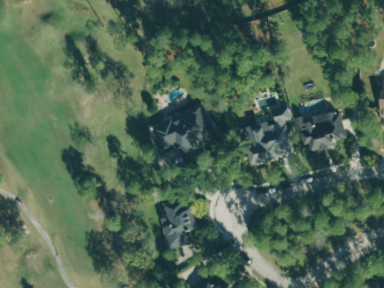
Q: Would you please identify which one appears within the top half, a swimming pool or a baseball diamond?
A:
swimming pool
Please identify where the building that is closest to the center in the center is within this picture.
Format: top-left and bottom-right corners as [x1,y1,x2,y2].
[150,106,206,155]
